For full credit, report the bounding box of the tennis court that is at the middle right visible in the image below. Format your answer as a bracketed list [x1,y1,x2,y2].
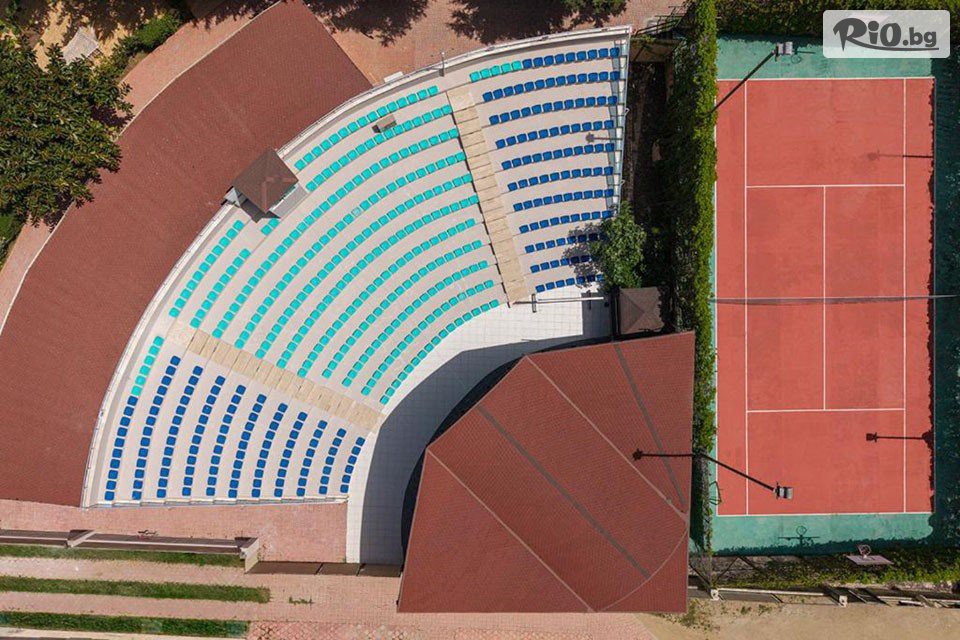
[708,34,960,556]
